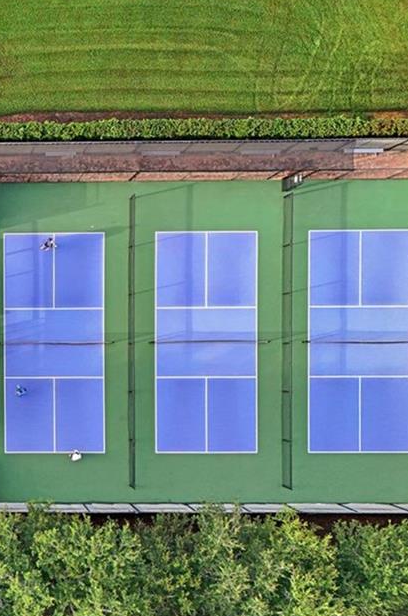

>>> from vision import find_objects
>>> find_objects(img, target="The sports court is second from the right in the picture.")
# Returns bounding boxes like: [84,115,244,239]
[156,231,257,453]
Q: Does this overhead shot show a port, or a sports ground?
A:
sports ground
